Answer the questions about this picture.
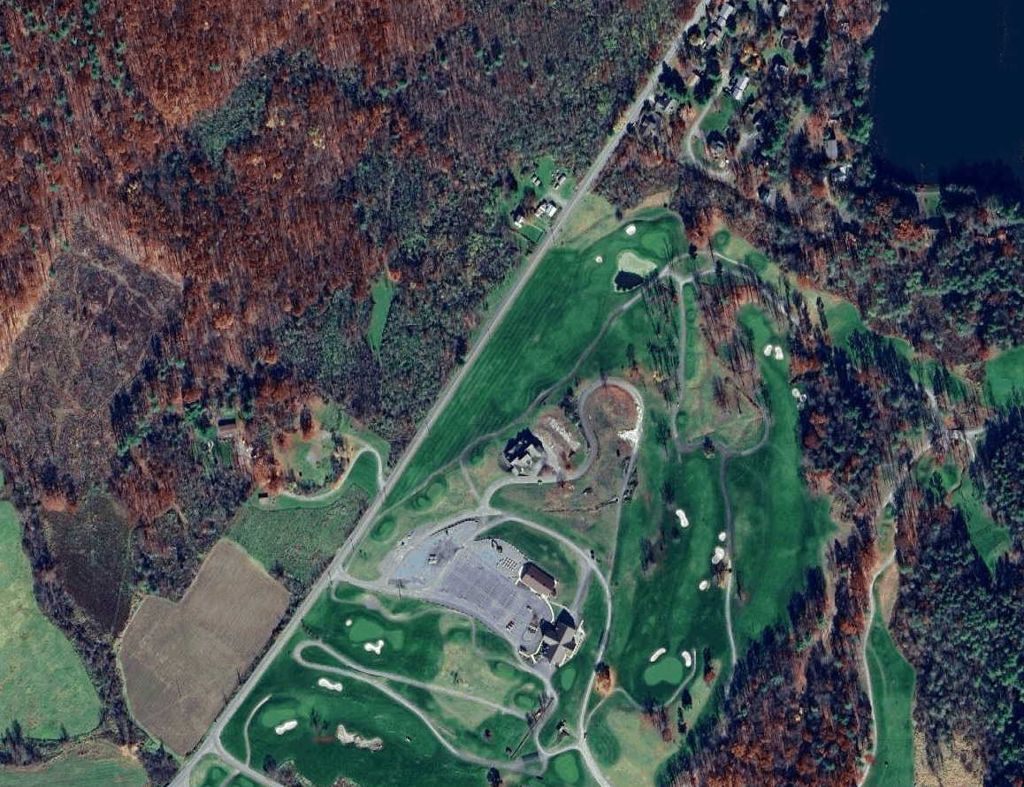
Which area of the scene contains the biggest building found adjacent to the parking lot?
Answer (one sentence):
Look in the bottom portion of the view to spot the biggest building found adjacent to the parking lot.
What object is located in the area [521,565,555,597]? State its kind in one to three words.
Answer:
barn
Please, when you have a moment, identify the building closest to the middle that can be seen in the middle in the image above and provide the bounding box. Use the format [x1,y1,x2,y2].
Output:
[505,437,539,476]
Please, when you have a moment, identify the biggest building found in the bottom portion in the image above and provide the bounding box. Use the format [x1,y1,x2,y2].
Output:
[541,621,577,668]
